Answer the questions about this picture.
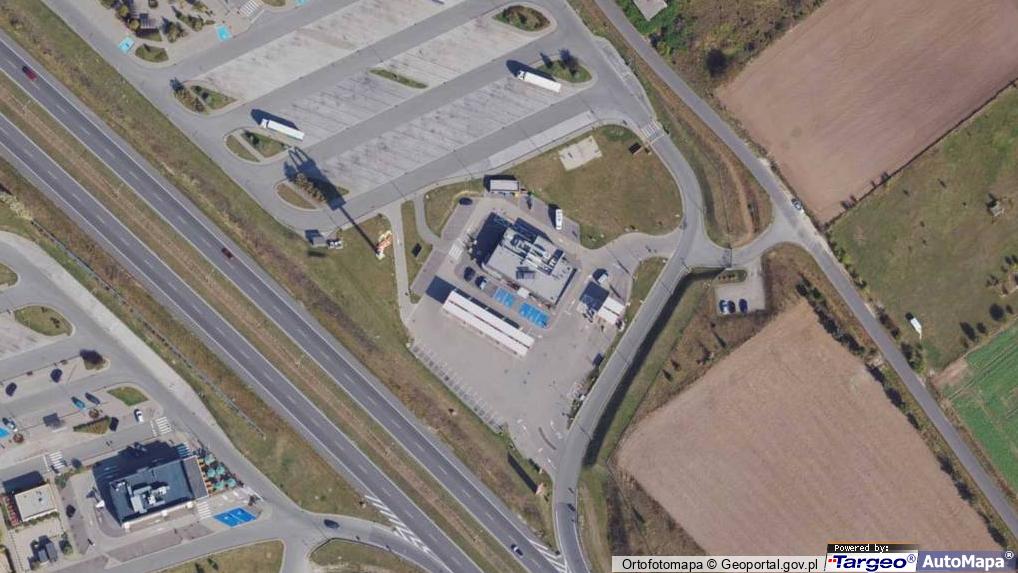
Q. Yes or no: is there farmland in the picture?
Yes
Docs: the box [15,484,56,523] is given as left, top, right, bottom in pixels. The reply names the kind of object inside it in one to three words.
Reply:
building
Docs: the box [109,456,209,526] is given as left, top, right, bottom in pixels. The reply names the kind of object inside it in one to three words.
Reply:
building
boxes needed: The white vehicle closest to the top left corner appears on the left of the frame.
[260,118,304,141]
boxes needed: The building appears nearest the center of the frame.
[481,230,581,308]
